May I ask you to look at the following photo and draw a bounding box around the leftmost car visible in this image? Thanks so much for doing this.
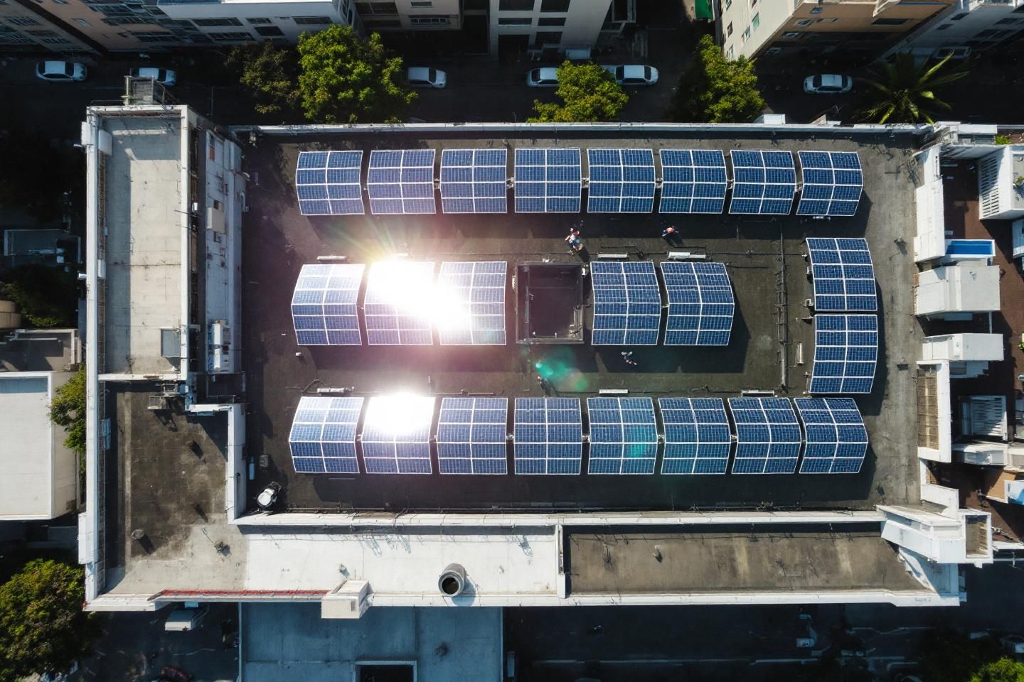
[38,58,90,84]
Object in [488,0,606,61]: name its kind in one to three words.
building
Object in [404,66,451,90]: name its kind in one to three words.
car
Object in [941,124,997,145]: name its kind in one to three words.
building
